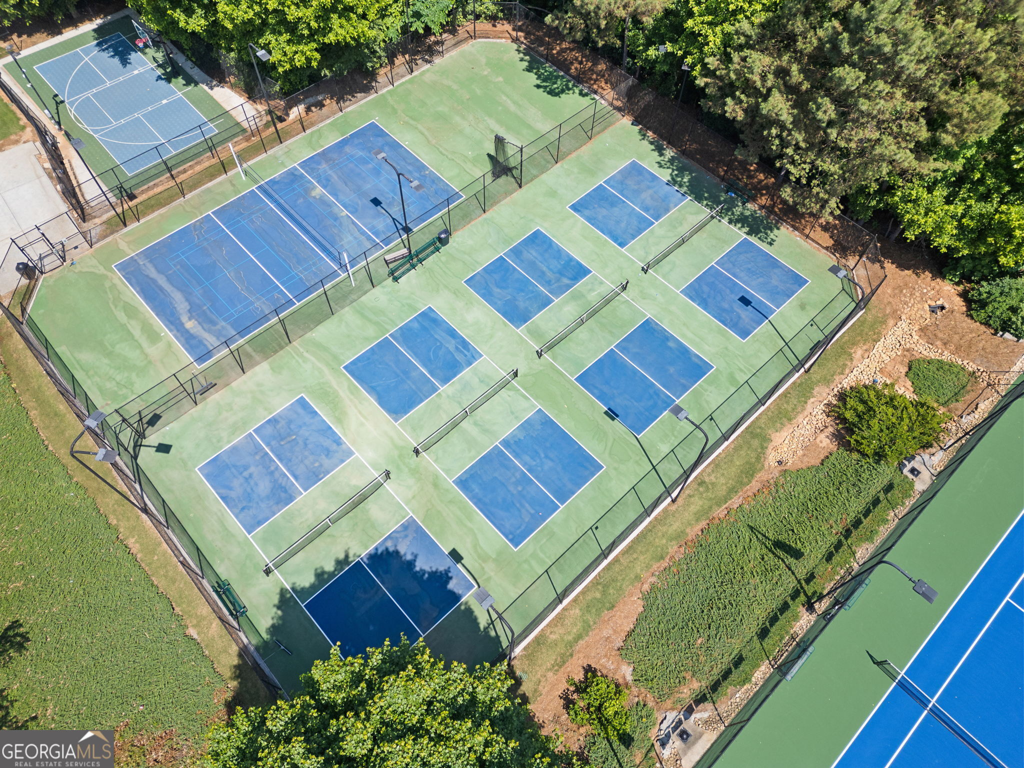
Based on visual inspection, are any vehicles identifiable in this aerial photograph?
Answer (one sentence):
No, the scene contains no vehicle.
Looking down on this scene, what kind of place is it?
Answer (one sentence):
The area seen from above is a sports ground.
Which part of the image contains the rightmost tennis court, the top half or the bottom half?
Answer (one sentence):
You can find the rightmost tennis court in the bottom half.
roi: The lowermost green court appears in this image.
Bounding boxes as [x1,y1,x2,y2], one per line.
[695,396,1024,768]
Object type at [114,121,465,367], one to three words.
sports court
